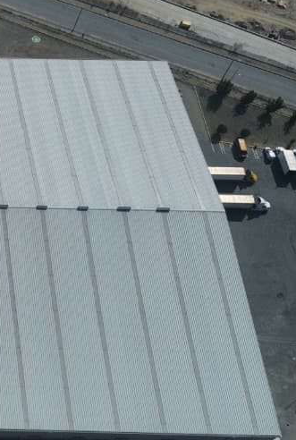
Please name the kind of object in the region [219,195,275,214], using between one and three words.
vehicle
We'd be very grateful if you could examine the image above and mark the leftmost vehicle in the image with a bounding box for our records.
[179,17,195,30]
